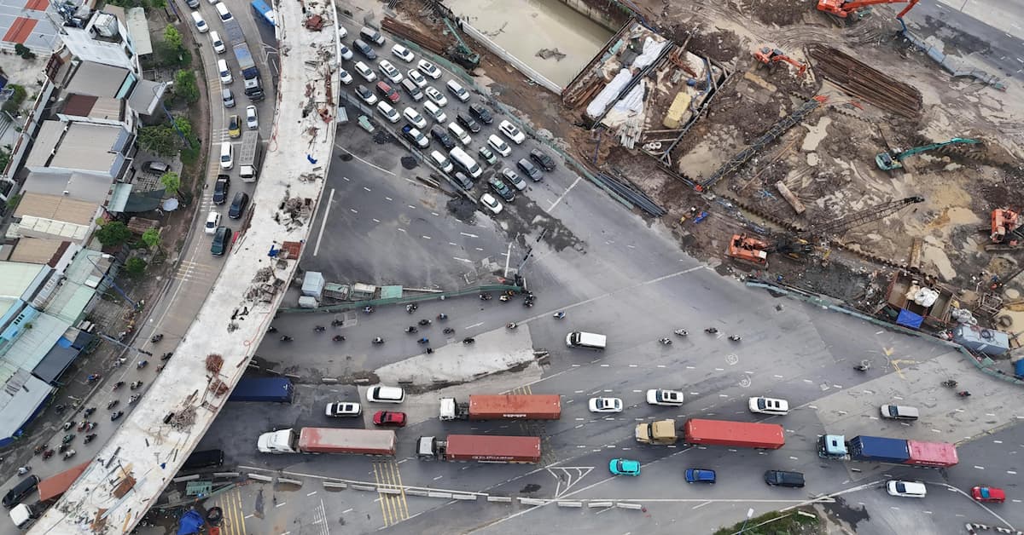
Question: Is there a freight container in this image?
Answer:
Yes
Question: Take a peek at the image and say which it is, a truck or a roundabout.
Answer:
truck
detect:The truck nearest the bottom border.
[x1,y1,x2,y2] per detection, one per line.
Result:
[3,503,46,532]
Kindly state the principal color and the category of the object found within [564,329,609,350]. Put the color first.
white vehicle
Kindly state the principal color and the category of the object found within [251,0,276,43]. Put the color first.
blue bus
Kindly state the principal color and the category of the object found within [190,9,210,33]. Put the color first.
white car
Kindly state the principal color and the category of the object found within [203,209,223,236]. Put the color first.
white car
